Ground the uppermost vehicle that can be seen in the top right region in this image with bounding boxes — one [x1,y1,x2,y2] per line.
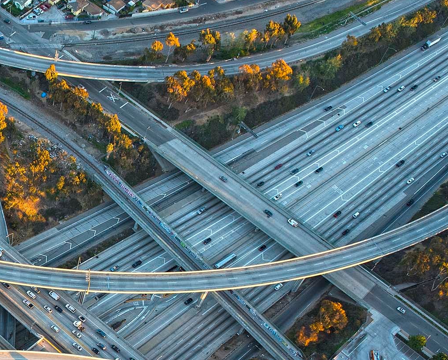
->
[416,32,444,53]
